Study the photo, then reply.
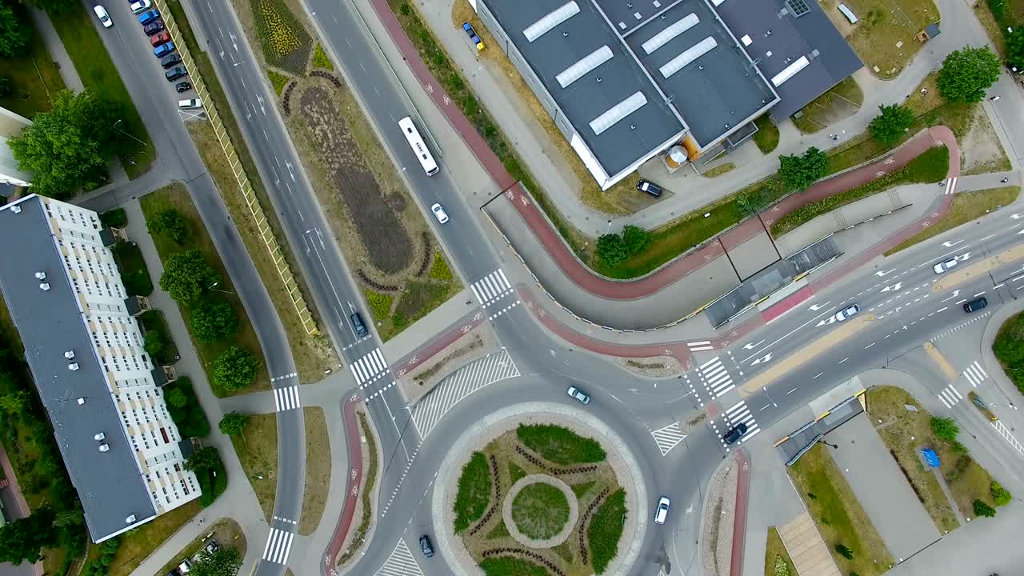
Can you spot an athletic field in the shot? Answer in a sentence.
No, I can see no athletic field in this picture.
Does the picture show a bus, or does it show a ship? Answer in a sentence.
There is a bus in the scene.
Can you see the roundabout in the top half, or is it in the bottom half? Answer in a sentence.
Seen from above, the roundabout lies in the bottom half of the view.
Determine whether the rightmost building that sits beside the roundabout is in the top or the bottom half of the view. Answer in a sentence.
You can find the rightmost building that sits beside the roundabout in the top half.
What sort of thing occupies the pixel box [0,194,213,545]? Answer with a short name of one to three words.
building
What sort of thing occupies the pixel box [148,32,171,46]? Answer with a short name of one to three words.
car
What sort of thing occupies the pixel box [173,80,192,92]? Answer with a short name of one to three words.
vehicle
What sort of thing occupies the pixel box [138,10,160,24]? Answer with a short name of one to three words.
car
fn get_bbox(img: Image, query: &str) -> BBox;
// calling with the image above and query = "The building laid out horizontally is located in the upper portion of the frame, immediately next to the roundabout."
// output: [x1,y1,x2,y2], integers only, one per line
[465,0,865,190]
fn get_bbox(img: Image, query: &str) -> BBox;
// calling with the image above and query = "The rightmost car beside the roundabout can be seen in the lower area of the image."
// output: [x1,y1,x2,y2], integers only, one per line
[722,422,747,445]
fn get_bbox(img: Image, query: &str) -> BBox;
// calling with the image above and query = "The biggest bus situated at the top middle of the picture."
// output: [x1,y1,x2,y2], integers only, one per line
[395,117,443,179]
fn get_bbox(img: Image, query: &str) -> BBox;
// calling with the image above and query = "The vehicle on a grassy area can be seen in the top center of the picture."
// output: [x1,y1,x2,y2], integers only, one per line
[464,24,482,48]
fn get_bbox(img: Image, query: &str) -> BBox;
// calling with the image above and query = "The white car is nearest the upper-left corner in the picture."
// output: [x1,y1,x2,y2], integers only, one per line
[94,3,111,28]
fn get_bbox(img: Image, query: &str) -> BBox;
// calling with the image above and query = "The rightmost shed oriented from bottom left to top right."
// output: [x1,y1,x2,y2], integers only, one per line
[910,21,942,48]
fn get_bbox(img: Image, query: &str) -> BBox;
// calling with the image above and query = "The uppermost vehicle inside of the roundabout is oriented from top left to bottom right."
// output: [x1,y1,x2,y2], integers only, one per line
[566,385,591,405]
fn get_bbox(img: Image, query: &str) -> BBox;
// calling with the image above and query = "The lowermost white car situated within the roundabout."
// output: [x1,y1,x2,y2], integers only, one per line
[655,498,670,523]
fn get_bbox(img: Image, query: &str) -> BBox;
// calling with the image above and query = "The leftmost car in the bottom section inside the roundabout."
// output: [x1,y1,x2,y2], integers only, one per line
[418,533,434,559]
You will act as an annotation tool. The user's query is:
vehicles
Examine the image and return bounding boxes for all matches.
[173,556,195,576]
[932,256,959,273]
[138,10,160,24]
[566,385,591,405]
[395,117,443,179]
[176,97,202,109]
[94,3,111,28]
[350,310,366,337]
[722,422,747,445]
[127,0,142,6]
[636,181,663,197]
[835,303,861,321]
[152,43,176,57]
[418,533,434,559]
[464,24,482,48]
[148,32,171,46]
[430,201,449,225]
[142,21,165,35]
[961,297,989,313]
[159,54,181,68]
[163,66,187,80]
[129,0,152,14]
[655,498,670,523]
[173,80,192,92]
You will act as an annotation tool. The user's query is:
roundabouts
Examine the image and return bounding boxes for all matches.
[374,348,714,576]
